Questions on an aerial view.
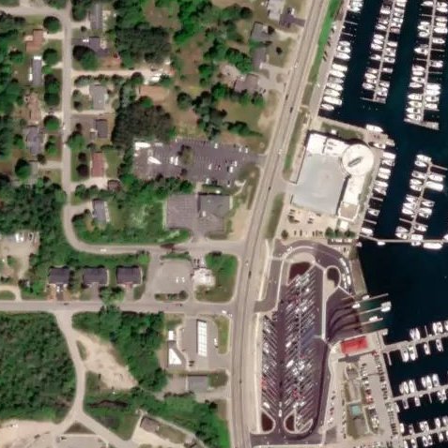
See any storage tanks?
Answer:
No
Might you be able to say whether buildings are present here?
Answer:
Yes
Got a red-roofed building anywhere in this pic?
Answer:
Yes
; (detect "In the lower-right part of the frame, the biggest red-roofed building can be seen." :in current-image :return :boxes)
[340,335,368,353]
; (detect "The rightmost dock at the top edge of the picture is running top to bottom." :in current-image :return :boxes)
[405,0,448,129]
